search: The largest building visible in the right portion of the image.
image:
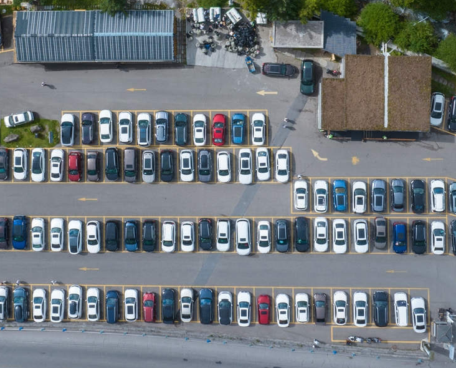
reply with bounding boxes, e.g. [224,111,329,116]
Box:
[320,43,433,141]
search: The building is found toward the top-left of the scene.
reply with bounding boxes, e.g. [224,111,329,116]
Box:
[13,10,176,63]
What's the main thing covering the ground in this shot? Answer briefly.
paved ground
